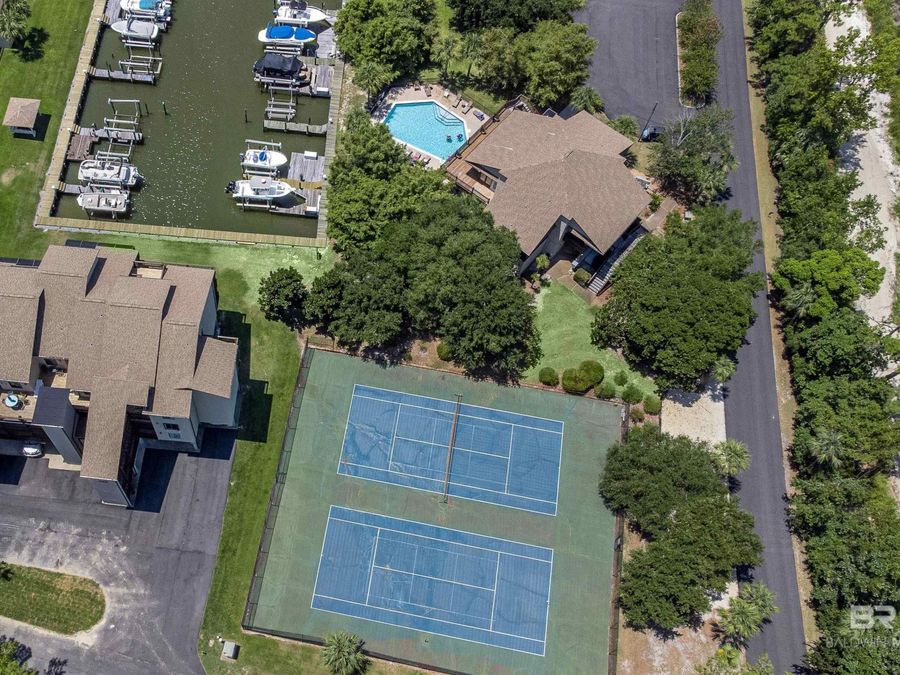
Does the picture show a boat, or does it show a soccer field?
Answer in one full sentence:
It is a boat that can be seen here.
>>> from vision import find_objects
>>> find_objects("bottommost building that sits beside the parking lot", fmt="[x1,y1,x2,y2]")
[465,110,651,268]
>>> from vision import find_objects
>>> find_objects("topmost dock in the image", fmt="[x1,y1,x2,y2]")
[102,0,122,25]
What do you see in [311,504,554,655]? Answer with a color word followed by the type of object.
blue tennis court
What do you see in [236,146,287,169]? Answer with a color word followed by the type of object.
white boat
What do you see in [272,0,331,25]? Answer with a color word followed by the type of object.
white boat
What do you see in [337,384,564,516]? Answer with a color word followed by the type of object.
blue tennis court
